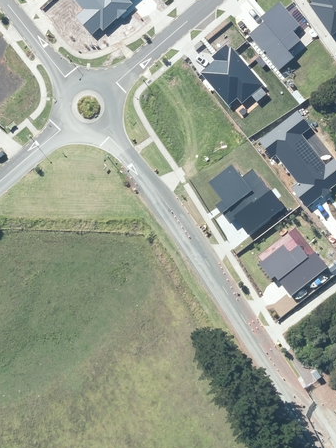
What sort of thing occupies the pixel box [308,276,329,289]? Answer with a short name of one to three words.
boat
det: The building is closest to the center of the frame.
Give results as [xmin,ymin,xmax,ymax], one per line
[209,164,285,236]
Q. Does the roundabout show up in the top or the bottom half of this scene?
top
